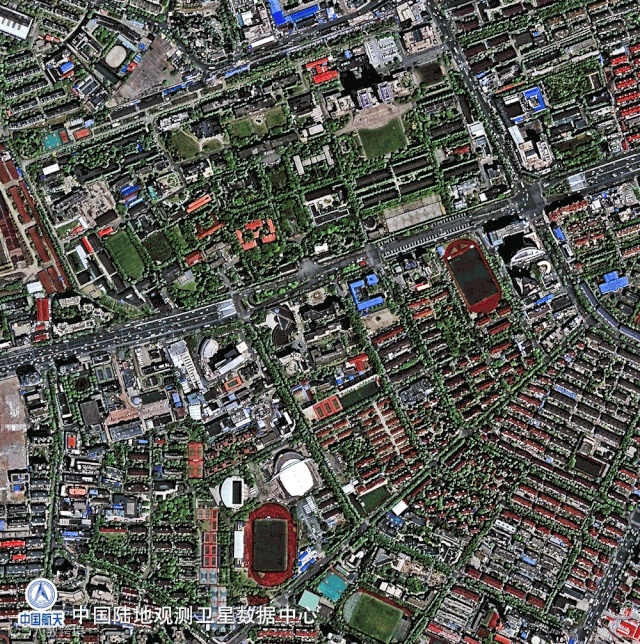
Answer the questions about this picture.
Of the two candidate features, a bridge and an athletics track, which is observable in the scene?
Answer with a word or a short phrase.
athletics track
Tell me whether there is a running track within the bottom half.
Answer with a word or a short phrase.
Yes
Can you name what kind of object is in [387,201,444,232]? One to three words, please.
basketball court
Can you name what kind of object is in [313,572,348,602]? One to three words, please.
basketball court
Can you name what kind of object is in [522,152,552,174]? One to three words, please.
building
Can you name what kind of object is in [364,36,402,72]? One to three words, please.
building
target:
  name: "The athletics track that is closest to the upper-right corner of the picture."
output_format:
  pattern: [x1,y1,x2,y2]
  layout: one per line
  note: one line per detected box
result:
[446,240,502,313]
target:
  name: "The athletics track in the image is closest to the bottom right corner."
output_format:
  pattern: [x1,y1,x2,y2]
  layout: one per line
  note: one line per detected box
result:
[343,590,413,644]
